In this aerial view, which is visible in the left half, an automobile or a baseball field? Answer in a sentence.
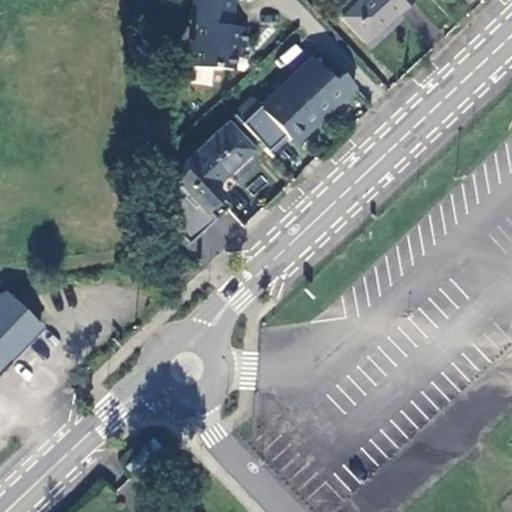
The one visible in the left half is an automobile.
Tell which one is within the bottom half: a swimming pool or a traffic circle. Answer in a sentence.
You can see a traffic circle within the bottom half.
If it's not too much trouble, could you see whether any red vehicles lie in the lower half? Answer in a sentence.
No, no red vehicle appears in the lower half.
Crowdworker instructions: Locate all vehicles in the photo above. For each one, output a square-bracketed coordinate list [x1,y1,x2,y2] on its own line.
[30,340,50,361]
[52,294,64,314]
[42,330,60,350]
[349,460,368,480]
[260,12,280,22]
[221,278,242,298]
[273,44,300,70]
[64,288,78,310]
[14,362,34,382]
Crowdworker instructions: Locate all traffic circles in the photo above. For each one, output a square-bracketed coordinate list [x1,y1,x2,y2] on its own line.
[95,271,259,458]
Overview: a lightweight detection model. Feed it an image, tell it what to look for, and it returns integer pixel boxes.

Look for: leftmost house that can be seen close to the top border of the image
[192,0,248,67]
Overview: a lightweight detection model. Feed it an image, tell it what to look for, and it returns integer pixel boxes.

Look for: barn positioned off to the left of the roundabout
[0,291,46,374]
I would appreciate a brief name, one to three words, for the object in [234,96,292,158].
house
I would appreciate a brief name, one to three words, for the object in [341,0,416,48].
house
